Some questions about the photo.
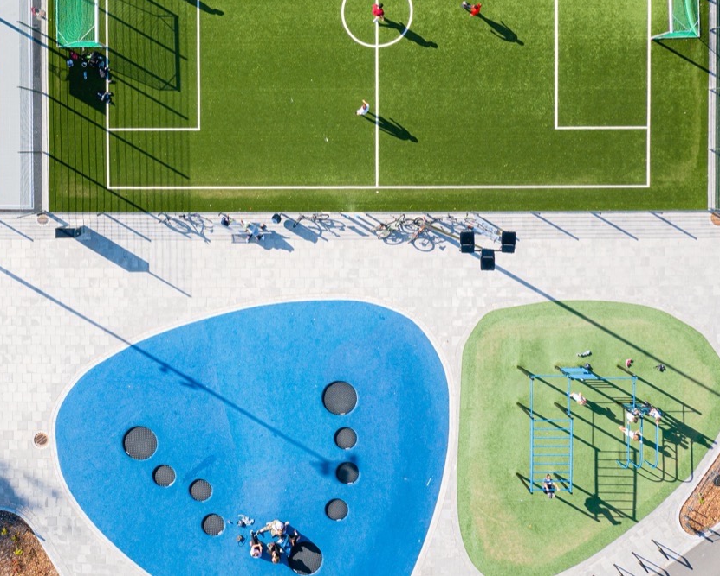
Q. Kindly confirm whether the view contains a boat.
No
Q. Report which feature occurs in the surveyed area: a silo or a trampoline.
trampoline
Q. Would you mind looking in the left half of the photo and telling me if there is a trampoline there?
Yes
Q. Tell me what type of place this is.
sports ground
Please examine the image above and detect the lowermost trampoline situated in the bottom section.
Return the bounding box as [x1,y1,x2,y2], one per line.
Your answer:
[287,539,323,576]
